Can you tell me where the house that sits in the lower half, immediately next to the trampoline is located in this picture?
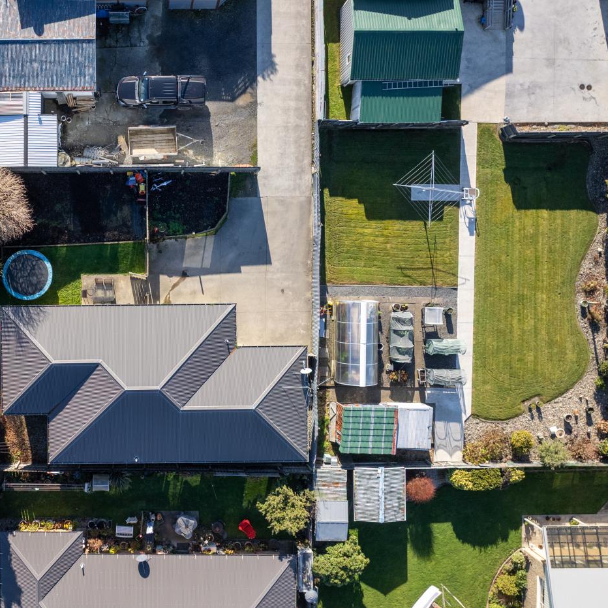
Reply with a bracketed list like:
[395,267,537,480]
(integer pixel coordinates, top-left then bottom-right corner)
[0,303,313,466]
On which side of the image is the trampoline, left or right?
left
